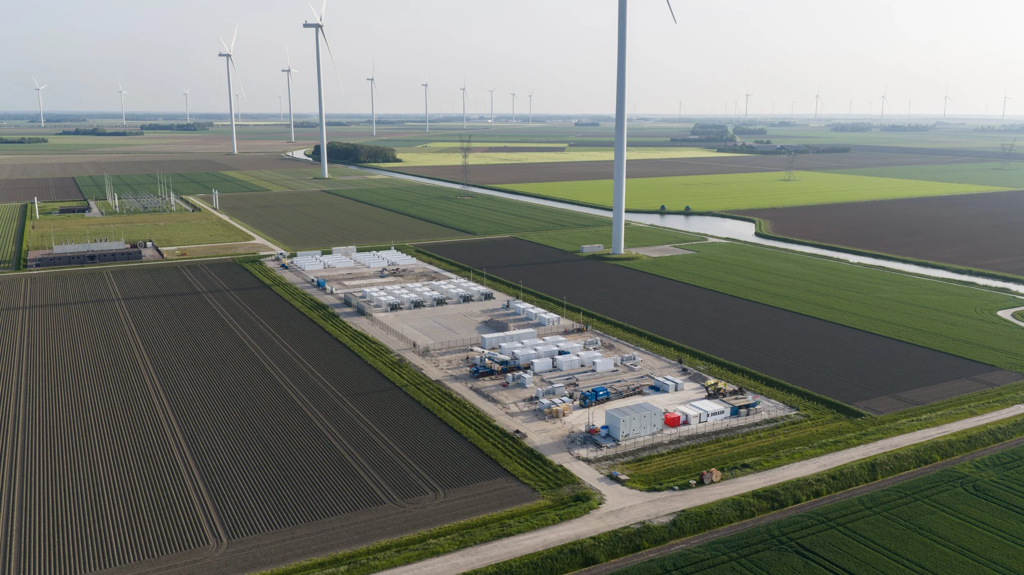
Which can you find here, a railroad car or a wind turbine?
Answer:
wind turbine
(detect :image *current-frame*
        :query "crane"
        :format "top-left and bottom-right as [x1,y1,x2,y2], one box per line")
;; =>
[469,346,522,377]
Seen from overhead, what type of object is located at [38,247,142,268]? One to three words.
building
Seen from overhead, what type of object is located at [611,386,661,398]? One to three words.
vehicle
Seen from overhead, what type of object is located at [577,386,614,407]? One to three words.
truck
